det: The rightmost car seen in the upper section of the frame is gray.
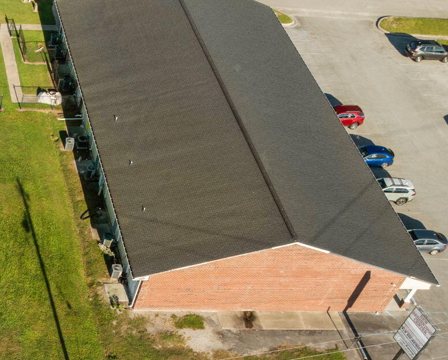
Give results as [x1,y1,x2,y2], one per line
[404,39,448,63]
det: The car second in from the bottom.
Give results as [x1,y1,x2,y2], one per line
[374,179,415,207]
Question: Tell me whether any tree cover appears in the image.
No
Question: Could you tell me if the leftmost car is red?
Yes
